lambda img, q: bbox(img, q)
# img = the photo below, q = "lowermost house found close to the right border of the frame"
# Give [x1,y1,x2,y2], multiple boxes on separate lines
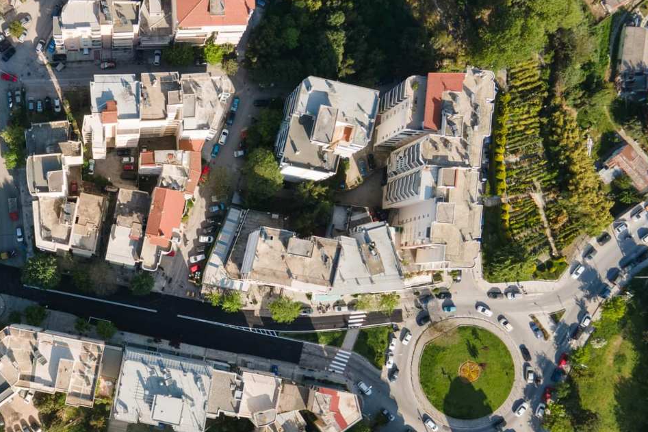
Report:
[602,149,648,195]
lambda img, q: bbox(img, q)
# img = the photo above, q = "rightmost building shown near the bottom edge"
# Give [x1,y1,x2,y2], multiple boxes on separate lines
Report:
[306,380,362,432]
